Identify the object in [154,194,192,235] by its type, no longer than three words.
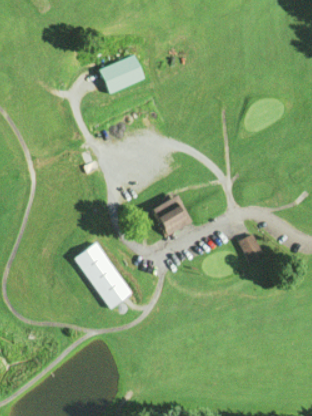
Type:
building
